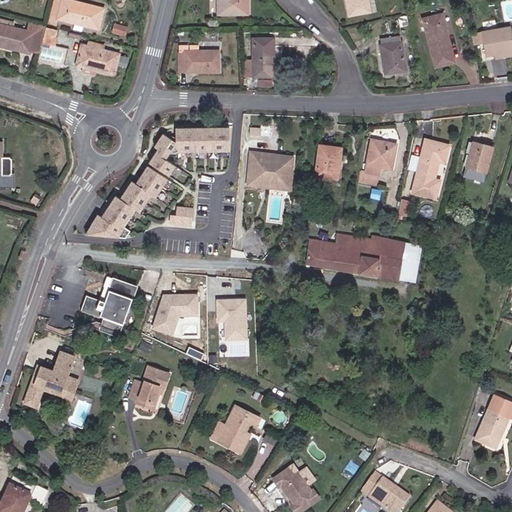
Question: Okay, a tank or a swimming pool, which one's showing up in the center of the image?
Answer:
swimming pool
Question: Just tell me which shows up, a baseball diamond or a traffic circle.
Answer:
traffic circle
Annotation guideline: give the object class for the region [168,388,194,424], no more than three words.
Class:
swimming pool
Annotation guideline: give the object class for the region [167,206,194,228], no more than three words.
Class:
building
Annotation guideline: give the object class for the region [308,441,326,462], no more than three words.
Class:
swimming pool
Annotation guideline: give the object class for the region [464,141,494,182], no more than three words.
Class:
house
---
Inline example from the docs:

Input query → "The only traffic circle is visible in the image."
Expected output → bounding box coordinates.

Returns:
[76,111,136,170]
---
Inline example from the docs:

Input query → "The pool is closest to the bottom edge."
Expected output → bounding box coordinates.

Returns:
[164,492,196,512]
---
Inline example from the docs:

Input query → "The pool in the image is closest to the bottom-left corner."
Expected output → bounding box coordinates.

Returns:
[66,397,95,430]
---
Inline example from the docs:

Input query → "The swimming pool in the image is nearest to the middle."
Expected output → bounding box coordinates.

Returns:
[266,191,288,224]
